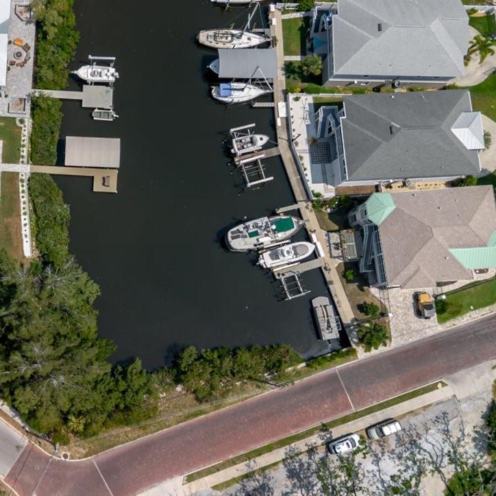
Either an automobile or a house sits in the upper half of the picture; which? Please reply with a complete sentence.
There is a house in the upper half of the picture.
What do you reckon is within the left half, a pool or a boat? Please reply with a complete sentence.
There is a boat within the left half.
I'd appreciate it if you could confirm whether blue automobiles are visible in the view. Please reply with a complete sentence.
No, there isn't any blue automobile down there.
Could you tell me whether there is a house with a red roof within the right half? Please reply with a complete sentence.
No, there is no house with a red roof within the right half.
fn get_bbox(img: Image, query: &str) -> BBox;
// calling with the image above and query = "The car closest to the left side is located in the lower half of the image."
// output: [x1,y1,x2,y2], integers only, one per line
[327,434,360,454]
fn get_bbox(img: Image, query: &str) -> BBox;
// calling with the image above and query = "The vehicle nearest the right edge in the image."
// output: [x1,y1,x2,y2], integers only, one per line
[416,291,434,320]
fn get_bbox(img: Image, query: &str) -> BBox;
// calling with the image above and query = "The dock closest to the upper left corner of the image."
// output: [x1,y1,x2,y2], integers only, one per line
[30,84,114,110]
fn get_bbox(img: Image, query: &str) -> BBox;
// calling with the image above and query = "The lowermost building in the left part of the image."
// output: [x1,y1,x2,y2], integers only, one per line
[64,136,120,170]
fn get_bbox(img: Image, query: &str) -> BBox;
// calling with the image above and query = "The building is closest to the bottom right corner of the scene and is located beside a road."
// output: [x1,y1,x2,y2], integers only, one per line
[347,184,496,314]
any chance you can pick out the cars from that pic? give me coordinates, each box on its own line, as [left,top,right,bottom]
[416,291,434,320]
[327,434,360,454]
[365,419,402,438]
